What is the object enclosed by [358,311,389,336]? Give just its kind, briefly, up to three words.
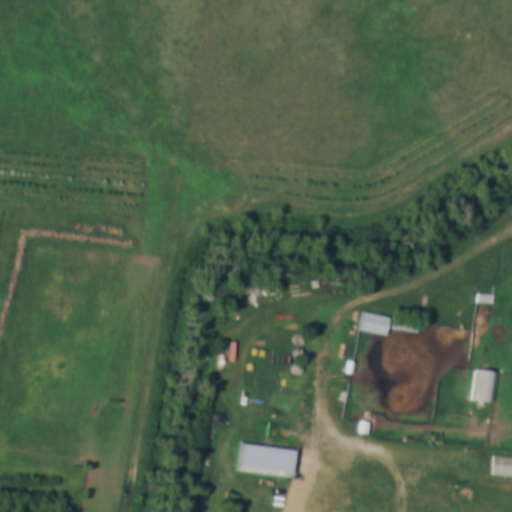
shed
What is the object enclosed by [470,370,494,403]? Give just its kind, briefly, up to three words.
house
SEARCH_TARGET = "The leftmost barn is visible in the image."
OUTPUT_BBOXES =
[236,441,297,477]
